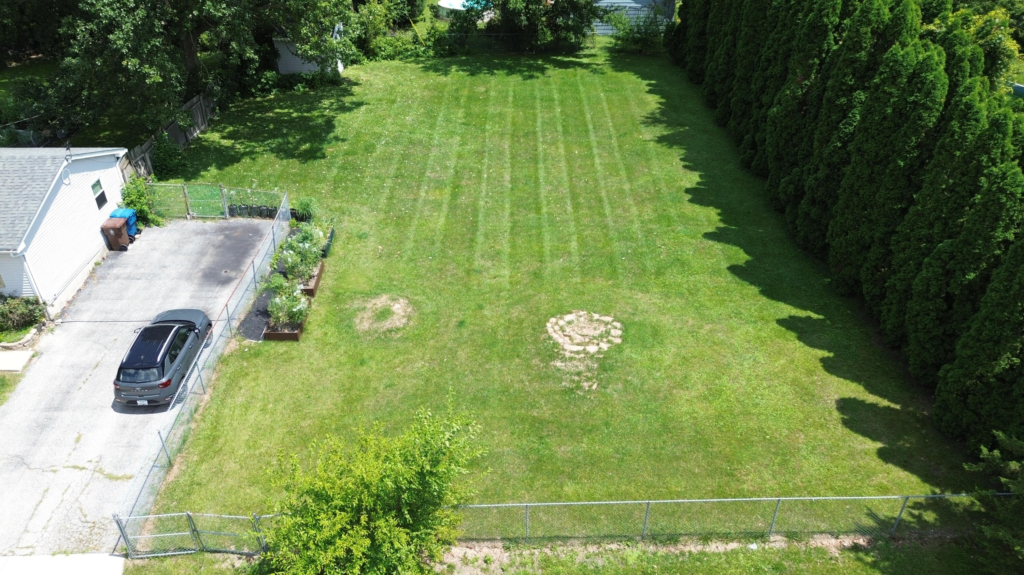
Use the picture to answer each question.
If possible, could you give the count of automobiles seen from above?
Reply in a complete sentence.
The picture shows 1 automobile.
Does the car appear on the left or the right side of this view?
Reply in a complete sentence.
You can find the car on the left side of the picture.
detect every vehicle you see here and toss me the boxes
[114,309,212,406]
